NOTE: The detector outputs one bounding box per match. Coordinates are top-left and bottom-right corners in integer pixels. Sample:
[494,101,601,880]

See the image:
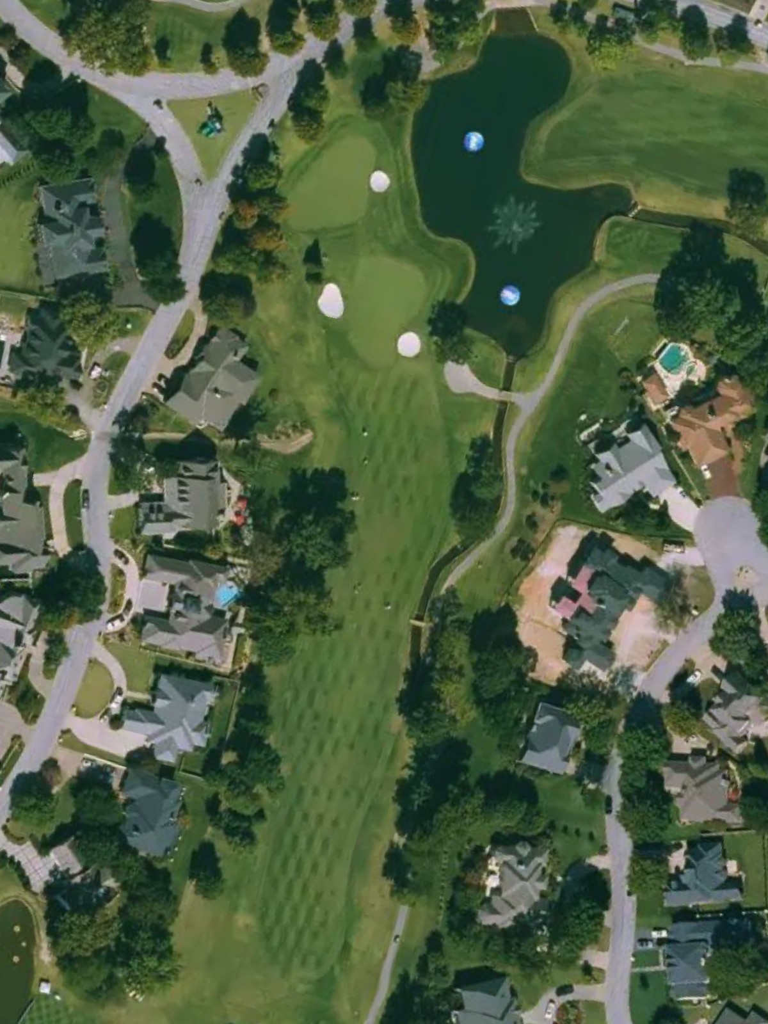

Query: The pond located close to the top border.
[411,9,635,362]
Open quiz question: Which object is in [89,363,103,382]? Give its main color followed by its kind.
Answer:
white car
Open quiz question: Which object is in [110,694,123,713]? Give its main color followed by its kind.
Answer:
white vehicle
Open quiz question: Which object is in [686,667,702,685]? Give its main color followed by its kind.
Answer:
white car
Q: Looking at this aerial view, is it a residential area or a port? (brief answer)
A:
residential area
